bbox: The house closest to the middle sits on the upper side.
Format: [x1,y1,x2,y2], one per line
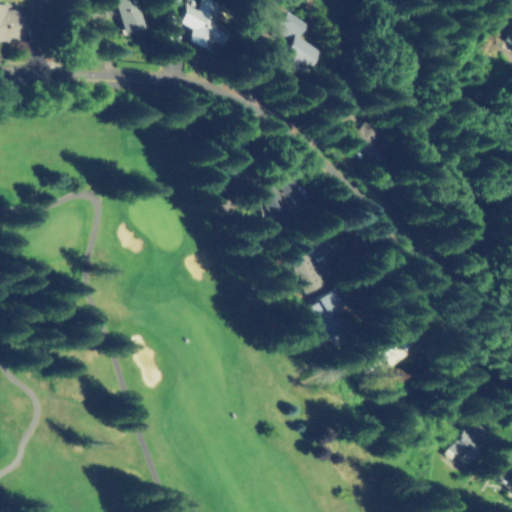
[262,183,293,212]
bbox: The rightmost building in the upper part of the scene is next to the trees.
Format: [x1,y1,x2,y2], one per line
[356,118,379,143]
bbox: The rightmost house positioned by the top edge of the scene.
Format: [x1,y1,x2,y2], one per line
[281,10,320,67]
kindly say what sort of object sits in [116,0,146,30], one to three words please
house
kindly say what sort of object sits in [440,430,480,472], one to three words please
house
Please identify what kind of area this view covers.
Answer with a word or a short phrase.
golf course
